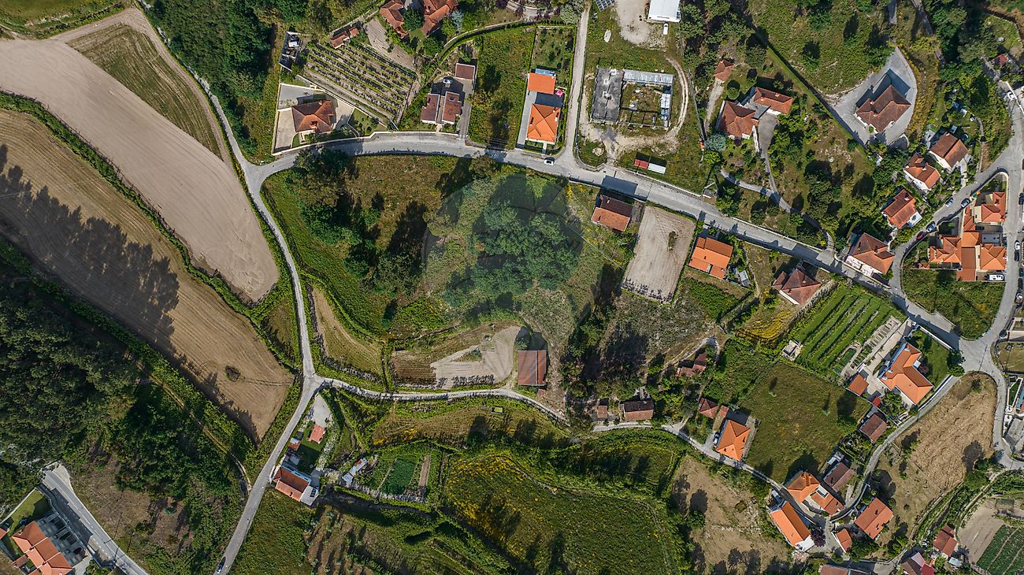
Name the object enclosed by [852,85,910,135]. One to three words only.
house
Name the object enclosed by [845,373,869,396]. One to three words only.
shed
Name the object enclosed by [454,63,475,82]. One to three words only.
building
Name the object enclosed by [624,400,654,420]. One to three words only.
house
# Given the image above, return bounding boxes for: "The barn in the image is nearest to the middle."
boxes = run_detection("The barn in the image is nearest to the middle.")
[517,350,546,388]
